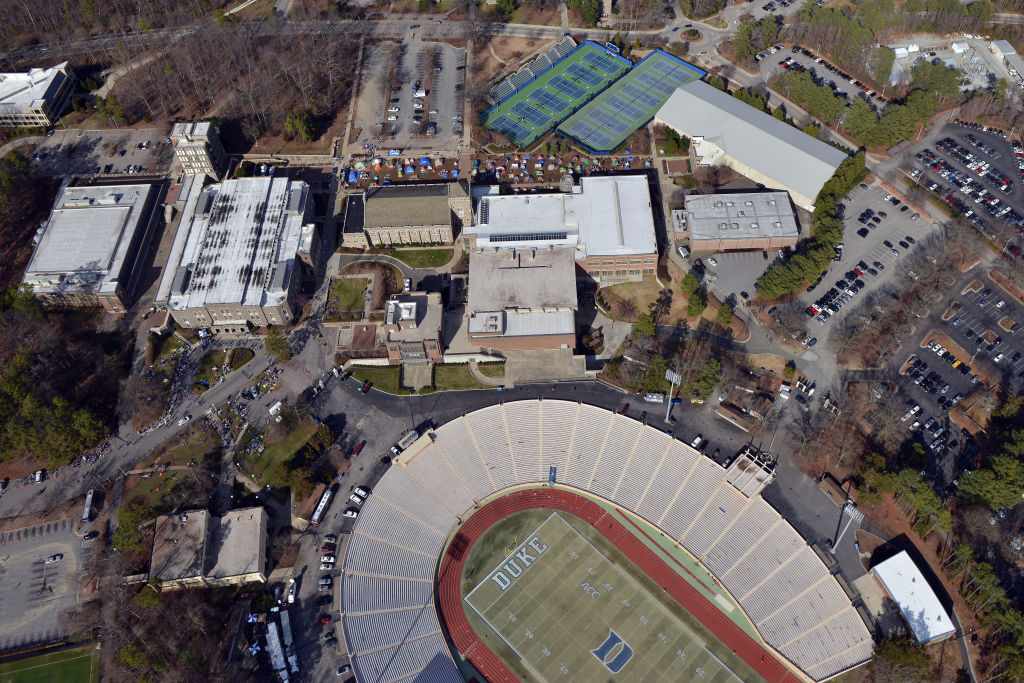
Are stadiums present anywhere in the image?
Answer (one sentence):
Yes, a stadium can be made out from above.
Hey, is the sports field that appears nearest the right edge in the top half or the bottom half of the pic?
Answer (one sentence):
You can find the sports field that appears nearest the right edge in the bottom half.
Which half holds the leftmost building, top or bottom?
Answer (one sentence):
The leftmost building sits in the top half of the picture.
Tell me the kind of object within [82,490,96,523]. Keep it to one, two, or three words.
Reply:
vehicle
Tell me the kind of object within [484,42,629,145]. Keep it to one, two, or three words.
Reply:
tennis court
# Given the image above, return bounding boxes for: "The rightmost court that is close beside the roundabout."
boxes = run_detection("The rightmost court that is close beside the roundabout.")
[558,50,707,150]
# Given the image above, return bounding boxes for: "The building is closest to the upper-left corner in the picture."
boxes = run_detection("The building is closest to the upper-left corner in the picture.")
[0,62,79,132]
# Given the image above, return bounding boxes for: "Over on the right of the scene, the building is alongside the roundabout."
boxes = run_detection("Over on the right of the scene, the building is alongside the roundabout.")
[655,80,849,215]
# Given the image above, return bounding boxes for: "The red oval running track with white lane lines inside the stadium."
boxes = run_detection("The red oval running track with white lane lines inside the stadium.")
[438,490,804,683]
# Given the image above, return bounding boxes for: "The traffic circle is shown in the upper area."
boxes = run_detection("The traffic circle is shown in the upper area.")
[663,19,720,53]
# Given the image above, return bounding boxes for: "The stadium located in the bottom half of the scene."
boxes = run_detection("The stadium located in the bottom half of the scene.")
[340,398,871,683]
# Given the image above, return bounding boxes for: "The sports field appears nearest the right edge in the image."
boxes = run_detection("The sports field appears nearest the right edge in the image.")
[462,509,748,683]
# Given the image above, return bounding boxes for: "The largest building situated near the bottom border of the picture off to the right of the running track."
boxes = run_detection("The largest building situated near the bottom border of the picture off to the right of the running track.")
[867,551,954,649]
